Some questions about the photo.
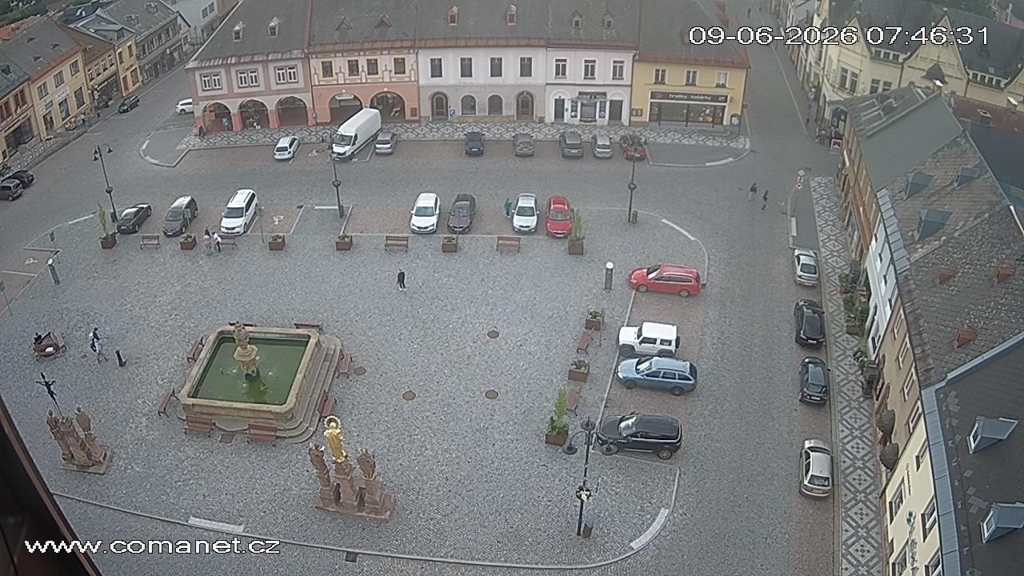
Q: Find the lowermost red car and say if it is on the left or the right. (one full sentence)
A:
The lowermost red car is on the right side of the image.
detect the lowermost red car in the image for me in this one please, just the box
[632,266,700,297]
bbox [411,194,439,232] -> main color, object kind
white car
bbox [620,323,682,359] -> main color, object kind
white car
